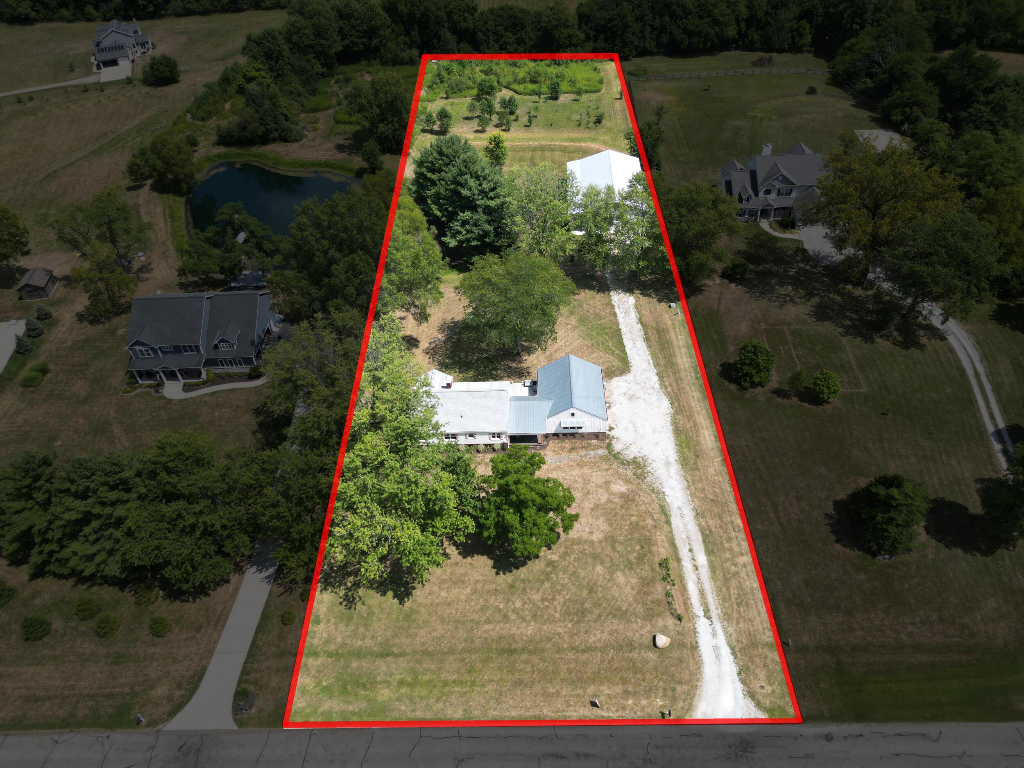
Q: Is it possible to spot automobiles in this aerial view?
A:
No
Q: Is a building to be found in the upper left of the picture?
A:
Yes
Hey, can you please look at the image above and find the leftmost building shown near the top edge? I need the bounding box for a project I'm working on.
[86,9,158,71]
